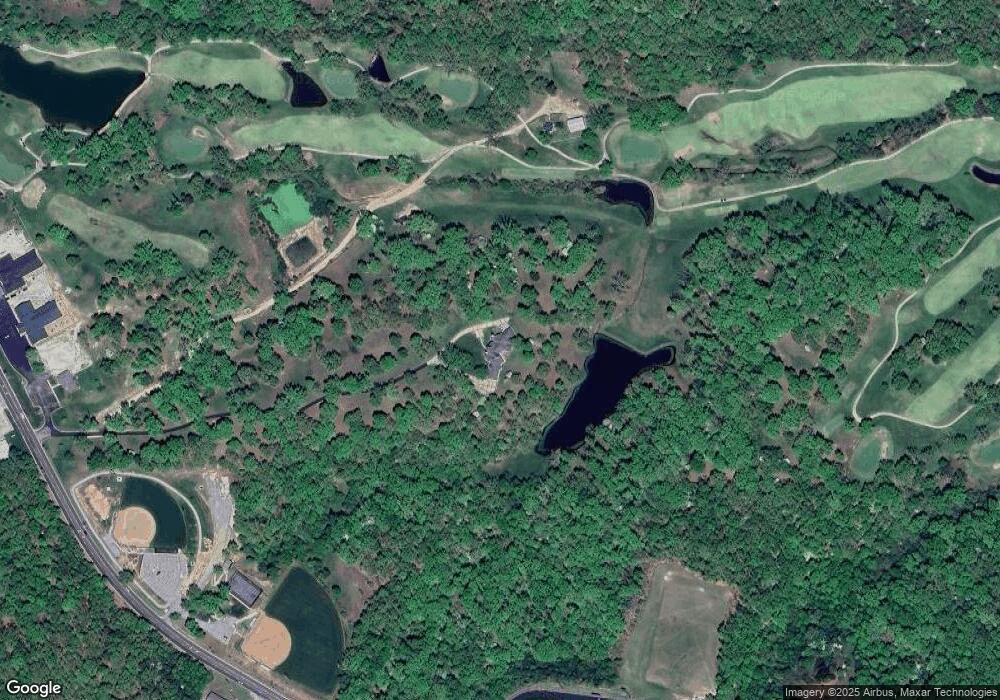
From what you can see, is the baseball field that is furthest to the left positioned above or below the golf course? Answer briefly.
below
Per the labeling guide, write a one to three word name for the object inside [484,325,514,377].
house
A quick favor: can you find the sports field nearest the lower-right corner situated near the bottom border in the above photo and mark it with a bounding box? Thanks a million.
[620,559,739,700]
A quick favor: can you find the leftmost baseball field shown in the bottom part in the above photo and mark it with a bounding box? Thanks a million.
[113,475,189,554]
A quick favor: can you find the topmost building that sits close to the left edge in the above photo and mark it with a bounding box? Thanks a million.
[0,248,45,296]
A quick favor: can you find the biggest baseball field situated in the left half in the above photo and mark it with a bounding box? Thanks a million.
[240,566,347,693]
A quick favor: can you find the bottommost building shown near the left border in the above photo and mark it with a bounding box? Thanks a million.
[13,301,62,345]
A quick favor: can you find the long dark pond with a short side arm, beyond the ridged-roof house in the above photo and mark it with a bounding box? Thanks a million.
[538,333,676,453]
